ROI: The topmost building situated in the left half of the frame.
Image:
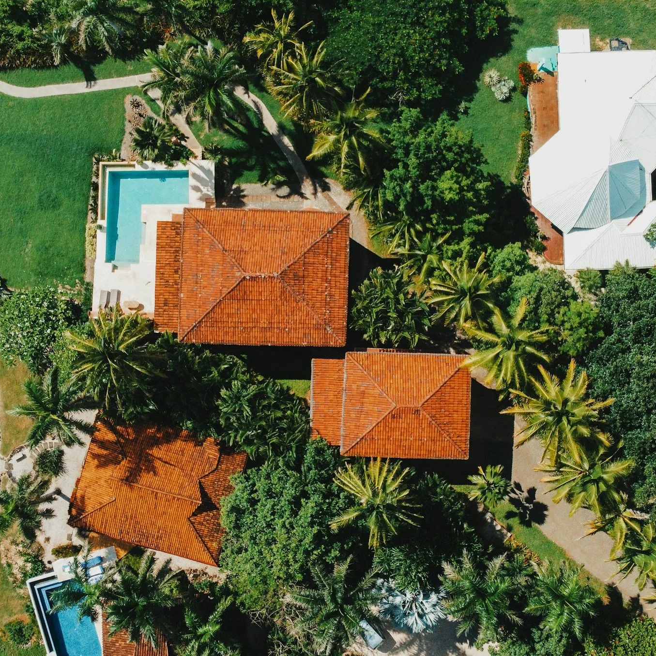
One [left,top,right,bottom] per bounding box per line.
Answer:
[154,207,351,349]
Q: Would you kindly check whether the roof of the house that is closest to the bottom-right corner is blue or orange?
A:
orange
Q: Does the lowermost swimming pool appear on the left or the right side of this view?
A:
left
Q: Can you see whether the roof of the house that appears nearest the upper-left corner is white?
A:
No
